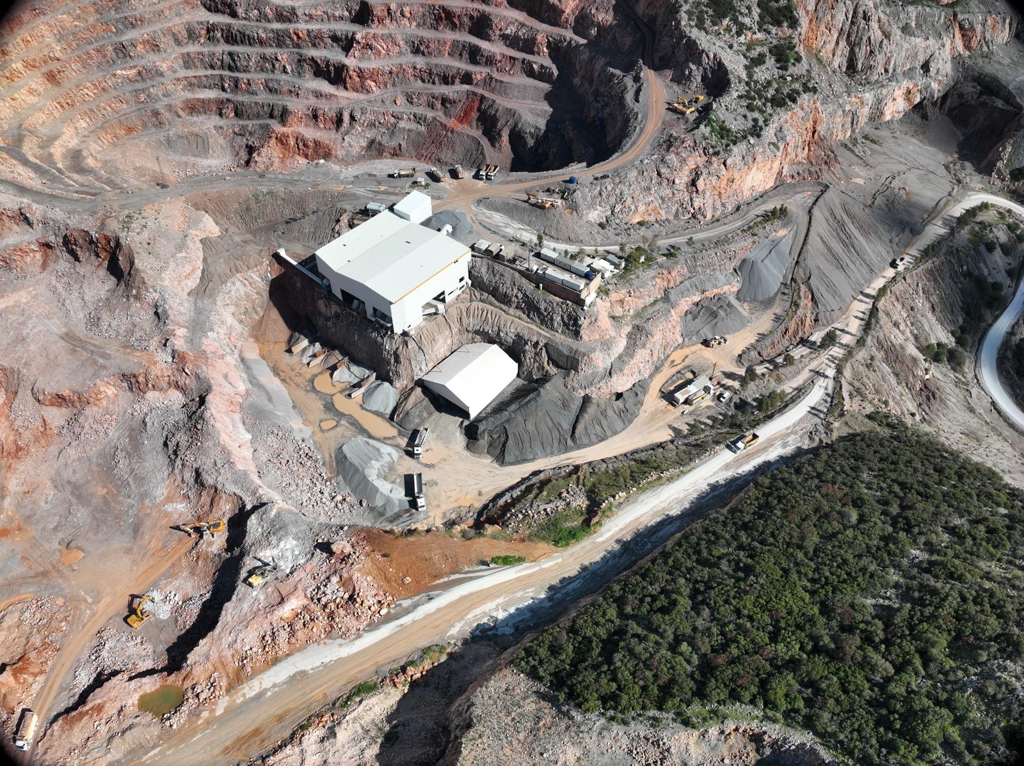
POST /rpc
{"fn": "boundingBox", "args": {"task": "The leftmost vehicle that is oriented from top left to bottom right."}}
[430,166,448,182]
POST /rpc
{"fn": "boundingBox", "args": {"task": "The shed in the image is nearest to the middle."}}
[422,334,518,421]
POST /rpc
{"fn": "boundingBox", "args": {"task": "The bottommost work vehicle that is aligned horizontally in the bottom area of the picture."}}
[173,520,218,536]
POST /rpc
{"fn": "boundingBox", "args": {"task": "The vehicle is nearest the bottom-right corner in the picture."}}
[731,432,763,454]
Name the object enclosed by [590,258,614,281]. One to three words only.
shed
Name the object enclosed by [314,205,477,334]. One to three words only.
building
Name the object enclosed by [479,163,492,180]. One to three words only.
vehicle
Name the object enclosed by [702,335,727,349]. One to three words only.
work vehicle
